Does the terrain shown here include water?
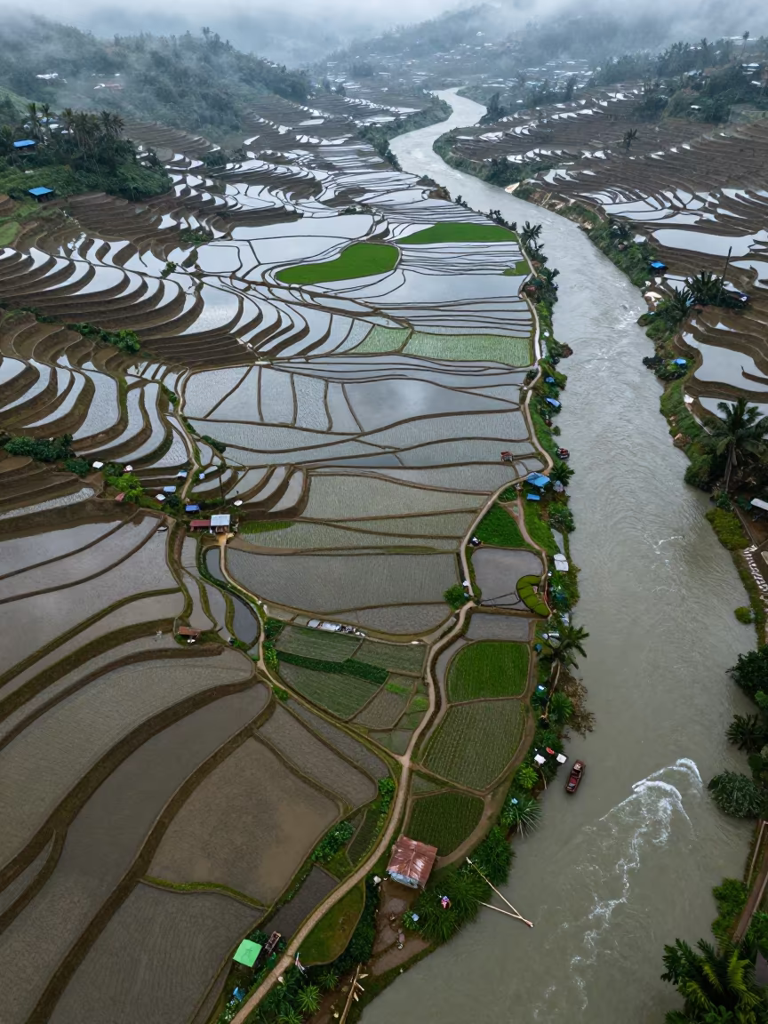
Yes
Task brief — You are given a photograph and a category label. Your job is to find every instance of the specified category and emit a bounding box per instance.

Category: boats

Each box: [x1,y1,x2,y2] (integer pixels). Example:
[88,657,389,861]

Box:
[565,759,584,794]
[555,449,570,458]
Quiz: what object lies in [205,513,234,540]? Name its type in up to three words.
house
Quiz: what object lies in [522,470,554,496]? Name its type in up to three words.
shed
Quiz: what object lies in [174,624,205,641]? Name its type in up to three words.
shed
